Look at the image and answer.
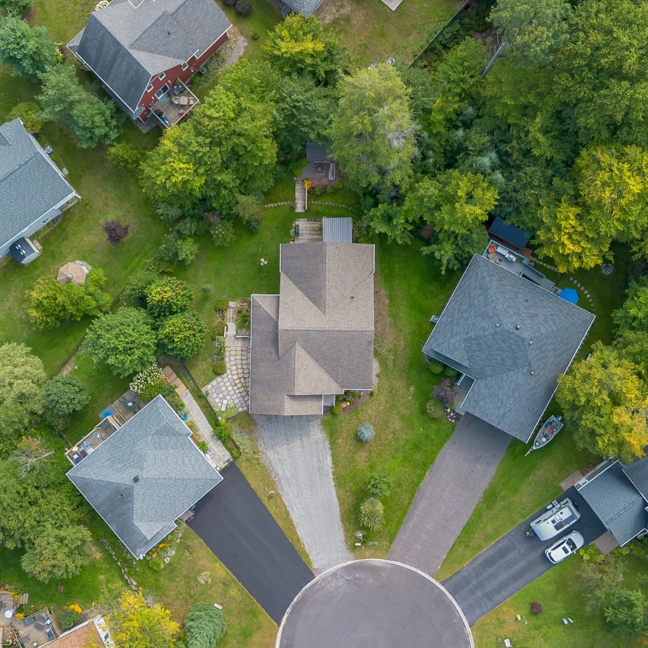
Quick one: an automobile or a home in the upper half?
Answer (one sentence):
Looking in the upper half, you will find a home.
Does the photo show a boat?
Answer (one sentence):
Yes, you can see a boat in this photo.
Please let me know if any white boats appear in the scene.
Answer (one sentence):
No, no white boat is visible in the scene.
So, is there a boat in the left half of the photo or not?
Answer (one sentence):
No, I can find no boat in the left half of the photo.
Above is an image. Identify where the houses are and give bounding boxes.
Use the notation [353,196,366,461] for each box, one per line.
[65,393,224,561]
[32,611,122,648]
[574,430,648,547]
[249,242,375,416]
[421,252,596,444]
[0,117,81,258]
[283,0,325,20]
[66,0,233,124]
